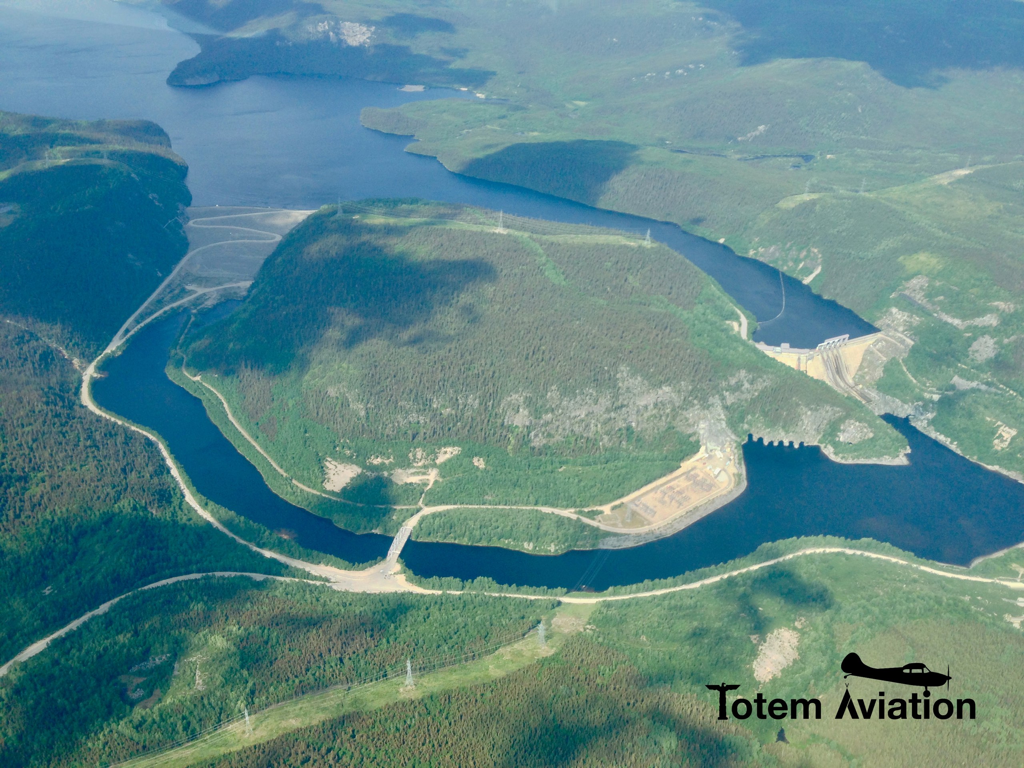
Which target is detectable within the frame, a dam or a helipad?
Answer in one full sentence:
Looking from above, you can make out a dam.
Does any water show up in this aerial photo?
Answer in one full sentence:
Yes, water can be seen from above here.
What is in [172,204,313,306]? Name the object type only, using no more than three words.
dam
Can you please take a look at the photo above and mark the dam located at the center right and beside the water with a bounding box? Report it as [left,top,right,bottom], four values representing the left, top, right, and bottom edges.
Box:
[750,328,886,403]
